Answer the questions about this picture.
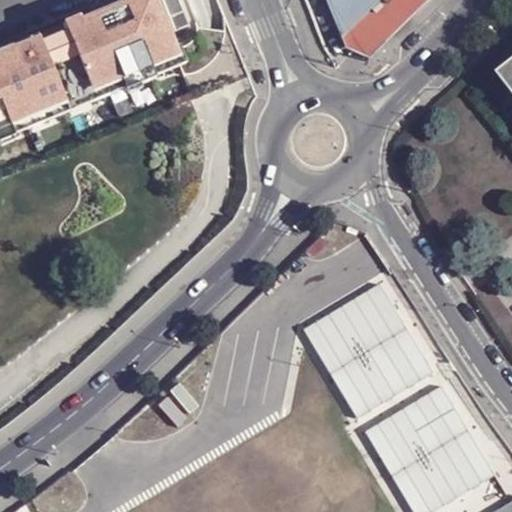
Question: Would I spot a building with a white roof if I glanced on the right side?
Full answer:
Yes, on the right side there is a building with a white roof.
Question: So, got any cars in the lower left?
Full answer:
Yes, there is a car in the lower left.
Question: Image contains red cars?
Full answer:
Yes, this view includes a red car.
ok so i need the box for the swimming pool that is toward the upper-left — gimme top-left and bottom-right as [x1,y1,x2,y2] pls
[72,114,88,133]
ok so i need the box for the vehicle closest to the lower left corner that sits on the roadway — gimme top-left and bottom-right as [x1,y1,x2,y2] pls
[15,428,36,446]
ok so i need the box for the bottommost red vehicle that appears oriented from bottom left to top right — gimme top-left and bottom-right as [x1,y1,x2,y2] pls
[62,392,84,410]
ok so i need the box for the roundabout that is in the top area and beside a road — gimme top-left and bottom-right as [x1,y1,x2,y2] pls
[254,52,412,234]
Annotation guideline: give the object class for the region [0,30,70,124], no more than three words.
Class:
house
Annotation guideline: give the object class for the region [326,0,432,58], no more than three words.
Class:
building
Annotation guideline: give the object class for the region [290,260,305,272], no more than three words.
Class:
vehicle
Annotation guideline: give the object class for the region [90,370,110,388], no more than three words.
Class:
car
